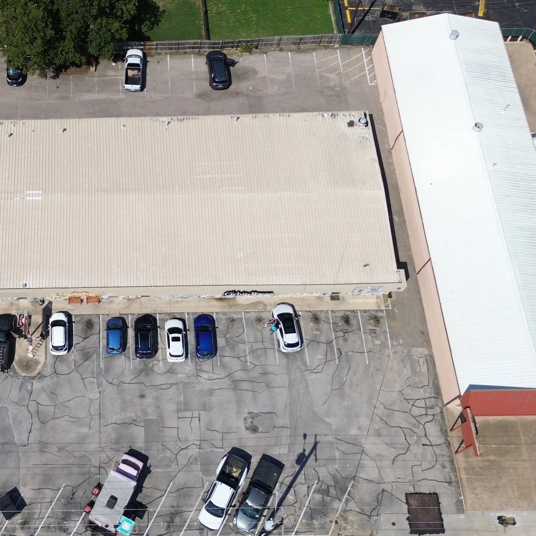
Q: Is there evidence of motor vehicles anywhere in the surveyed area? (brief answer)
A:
Yes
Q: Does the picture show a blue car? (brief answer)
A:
Yes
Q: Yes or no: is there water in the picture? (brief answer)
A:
No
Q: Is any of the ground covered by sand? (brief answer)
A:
No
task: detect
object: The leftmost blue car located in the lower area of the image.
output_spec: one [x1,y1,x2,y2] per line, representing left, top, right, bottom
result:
[106,320,127,356]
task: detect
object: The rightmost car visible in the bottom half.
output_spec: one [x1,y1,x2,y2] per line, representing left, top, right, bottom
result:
[266,306,301,355]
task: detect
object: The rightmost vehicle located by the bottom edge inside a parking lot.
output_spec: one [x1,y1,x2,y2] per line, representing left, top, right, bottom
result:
[235,456,283,536]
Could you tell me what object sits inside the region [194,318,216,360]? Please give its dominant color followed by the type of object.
blue car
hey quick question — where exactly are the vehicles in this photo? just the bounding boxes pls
[87,457,146,536]
[235,456,283,536]
[201,451,251,534]
[266,306,301,355]
[47,316,70,358]
[165,321,187,364]
[135,318,158,362]
[124,49,143,94]
[106,320,127,356]
[0,317,20,375]
[194,318,216,360]
[207,52,235,91]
